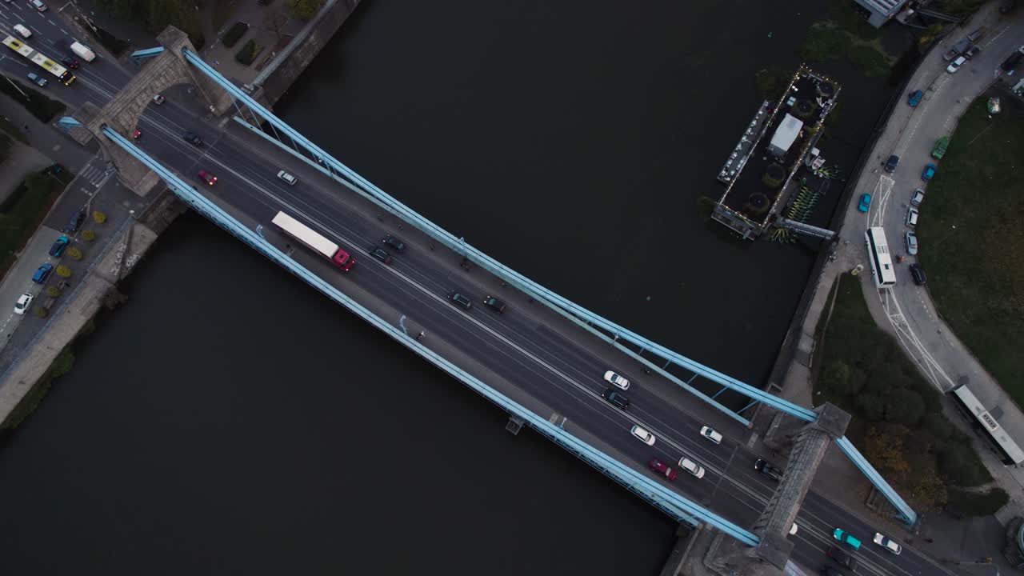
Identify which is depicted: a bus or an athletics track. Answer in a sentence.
Of the two, only a bus appears.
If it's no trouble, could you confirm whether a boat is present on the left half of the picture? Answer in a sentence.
No, looking on the left half of the picture, there is no boat.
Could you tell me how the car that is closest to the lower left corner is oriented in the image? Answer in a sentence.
The car that is closest to the lower left corner has been laid out diagonally relative to the frame.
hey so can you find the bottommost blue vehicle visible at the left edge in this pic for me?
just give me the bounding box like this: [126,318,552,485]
[32,261,55,284]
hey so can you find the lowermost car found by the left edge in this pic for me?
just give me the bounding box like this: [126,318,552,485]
[12,291,36,318]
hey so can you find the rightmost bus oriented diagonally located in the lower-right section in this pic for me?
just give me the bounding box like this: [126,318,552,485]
[944,385,1024,476]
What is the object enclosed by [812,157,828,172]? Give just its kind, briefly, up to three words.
boat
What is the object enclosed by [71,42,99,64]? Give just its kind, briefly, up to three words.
vehicle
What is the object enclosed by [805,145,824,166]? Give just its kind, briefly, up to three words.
boat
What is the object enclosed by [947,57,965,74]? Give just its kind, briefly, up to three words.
car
